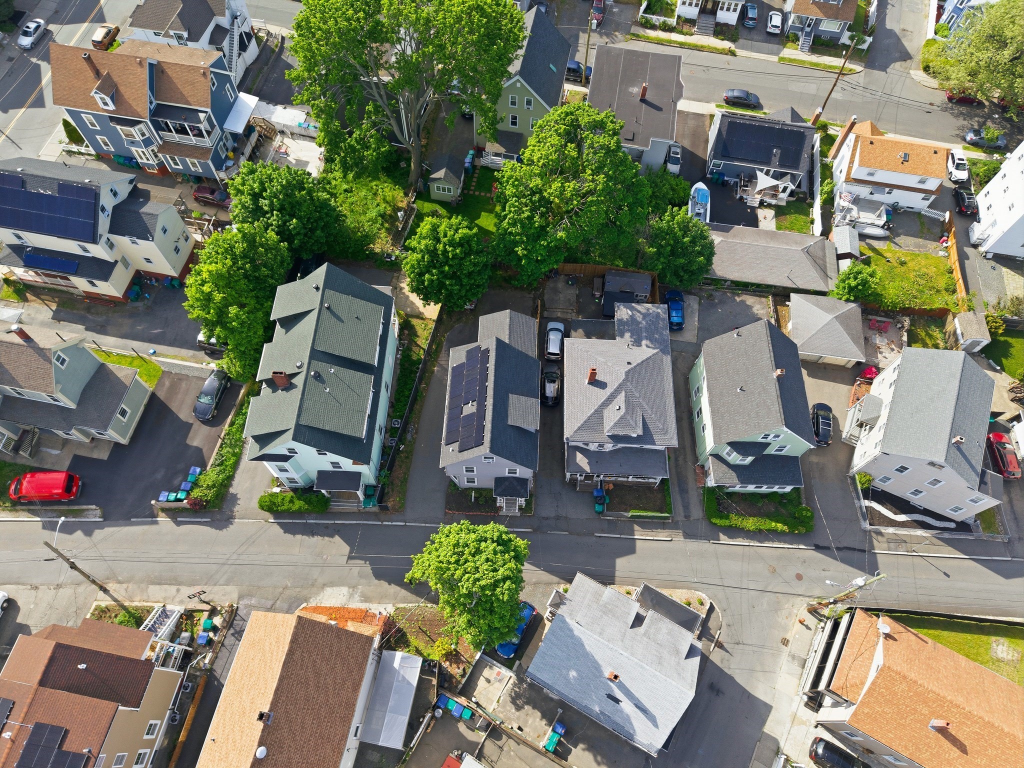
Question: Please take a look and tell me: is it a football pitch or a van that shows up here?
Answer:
van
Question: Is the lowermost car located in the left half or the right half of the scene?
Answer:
right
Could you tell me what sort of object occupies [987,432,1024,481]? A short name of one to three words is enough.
car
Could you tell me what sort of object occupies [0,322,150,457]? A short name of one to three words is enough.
house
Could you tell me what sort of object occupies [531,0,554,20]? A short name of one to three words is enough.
car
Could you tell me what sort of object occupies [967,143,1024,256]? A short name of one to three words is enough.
house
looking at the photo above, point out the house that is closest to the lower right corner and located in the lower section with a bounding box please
[797,609,1024,768]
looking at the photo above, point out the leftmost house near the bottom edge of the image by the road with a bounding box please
[0,602,184,768]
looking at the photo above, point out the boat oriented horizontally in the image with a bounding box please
[856,223,891,240]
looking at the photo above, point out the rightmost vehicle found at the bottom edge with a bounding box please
[806,734,874,768]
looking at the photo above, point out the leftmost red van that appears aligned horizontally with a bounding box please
[8,468,81,499]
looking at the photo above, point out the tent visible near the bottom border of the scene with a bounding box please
[359,650,425,750]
